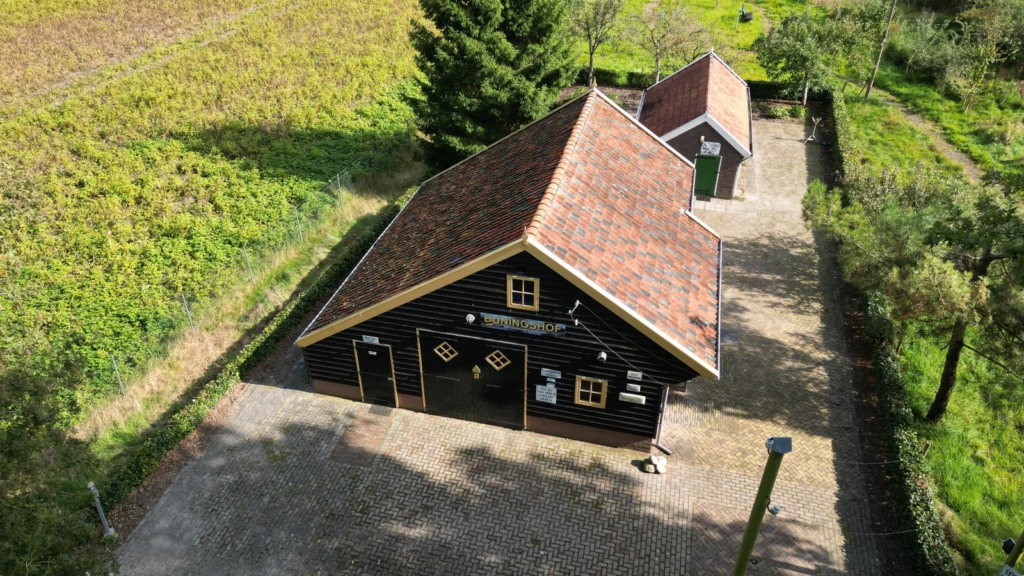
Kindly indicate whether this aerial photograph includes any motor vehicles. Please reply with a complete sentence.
No, no motor vehicle is visible in the scene.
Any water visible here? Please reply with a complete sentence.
No, the scene doesn't show any water.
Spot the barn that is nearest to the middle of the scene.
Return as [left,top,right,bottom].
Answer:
[289,80,727,464]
